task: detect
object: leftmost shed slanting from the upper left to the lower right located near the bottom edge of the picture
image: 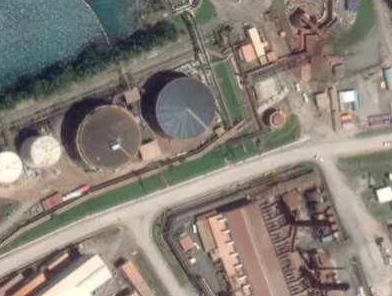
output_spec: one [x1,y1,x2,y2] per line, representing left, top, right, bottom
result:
[120,260,154,296]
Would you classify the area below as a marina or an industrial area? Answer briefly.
industrial area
